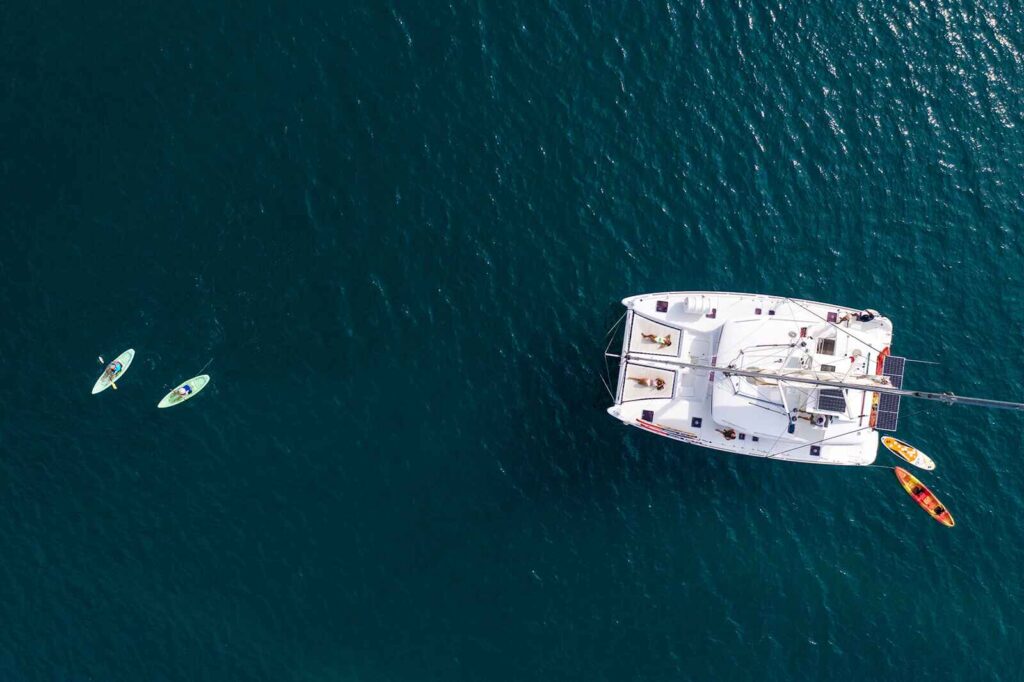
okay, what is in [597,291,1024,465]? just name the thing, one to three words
boat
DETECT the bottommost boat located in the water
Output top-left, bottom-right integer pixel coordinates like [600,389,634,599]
[893,468,956,526]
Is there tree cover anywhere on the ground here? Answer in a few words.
No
